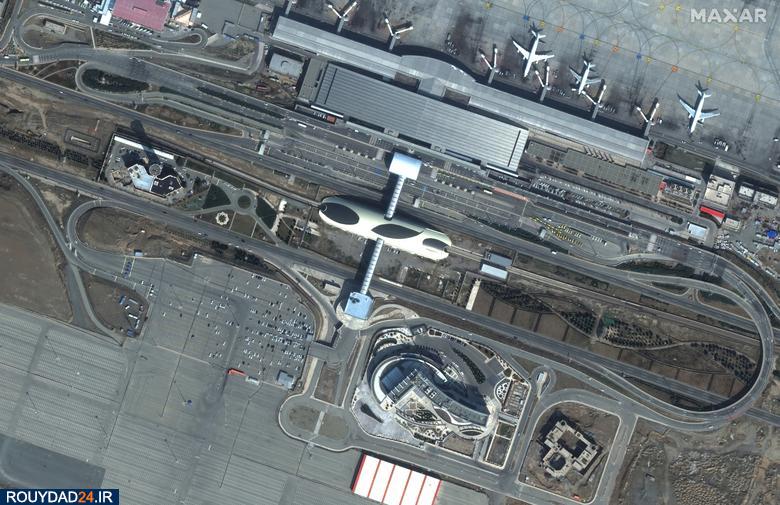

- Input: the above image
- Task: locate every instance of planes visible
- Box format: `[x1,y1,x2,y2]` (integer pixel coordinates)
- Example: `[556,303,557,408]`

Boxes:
[679,92,720,133]
[570,61,603,94]
[512,31,555,76]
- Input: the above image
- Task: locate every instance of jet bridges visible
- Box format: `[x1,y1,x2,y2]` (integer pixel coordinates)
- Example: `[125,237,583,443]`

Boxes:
[328,1,358,32]
[385,18,414,50]
[535,66,550,101]
[581,85,607,120]
[286,0,305,17]
[480,49,498,83]
[636,102,659,136]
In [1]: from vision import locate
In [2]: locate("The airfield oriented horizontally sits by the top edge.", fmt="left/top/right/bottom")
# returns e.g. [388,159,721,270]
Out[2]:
[262,0,780,178]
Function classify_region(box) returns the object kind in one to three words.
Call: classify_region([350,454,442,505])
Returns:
building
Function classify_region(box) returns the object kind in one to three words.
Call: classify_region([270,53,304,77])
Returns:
building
